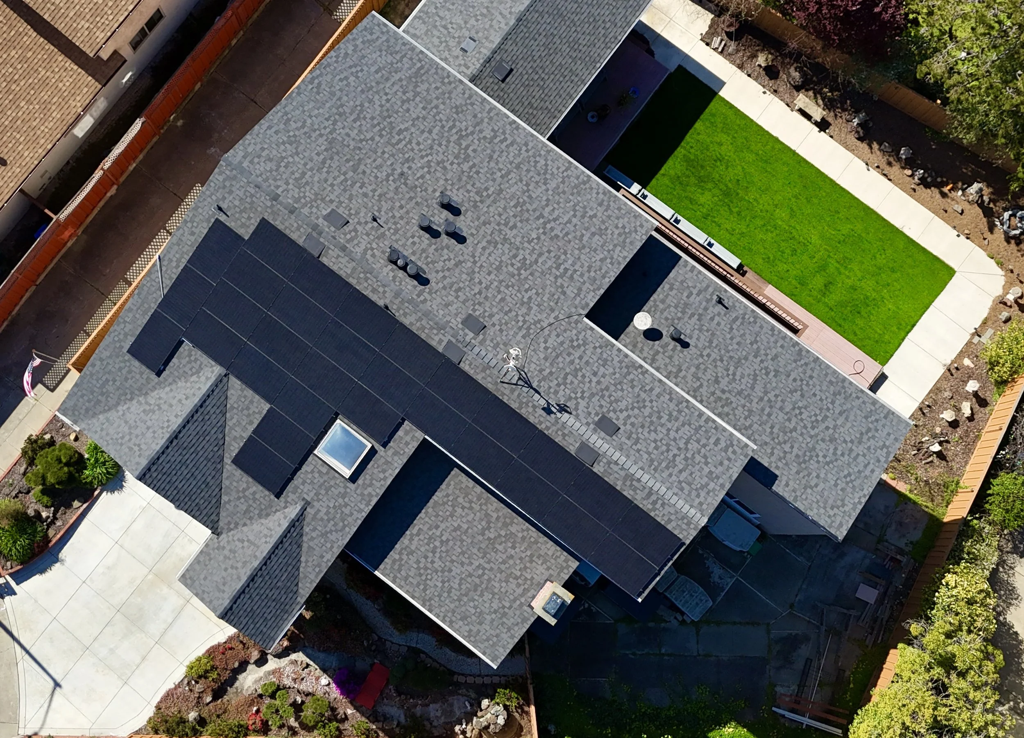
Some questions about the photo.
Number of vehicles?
0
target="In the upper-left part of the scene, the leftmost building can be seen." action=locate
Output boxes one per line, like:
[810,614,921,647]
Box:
[0,0,201,244]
